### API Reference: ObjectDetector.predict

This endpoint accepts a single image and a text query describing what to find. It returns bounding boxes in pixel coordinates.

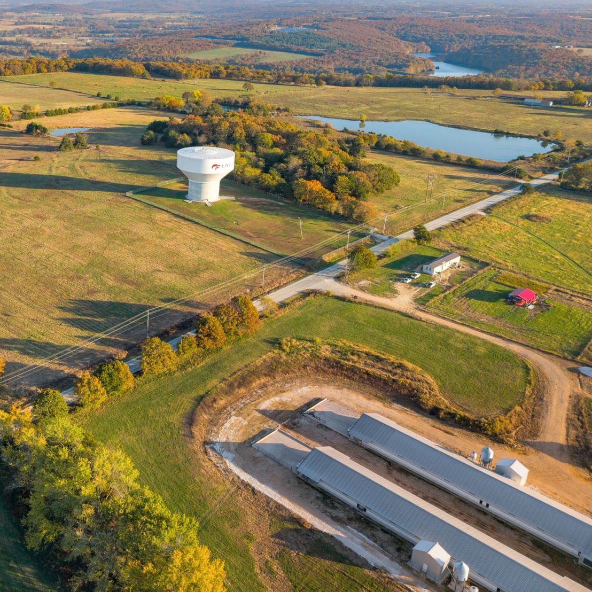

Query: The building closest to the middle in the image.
[422,250,463,274]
